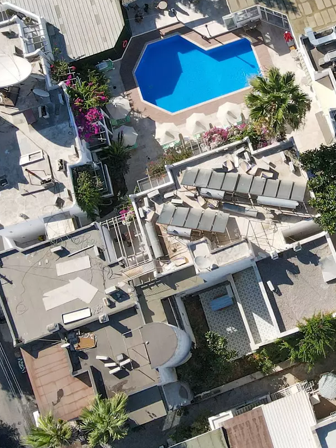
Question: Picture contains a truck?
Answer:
No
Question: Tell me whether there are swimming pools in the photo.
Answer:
Yes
